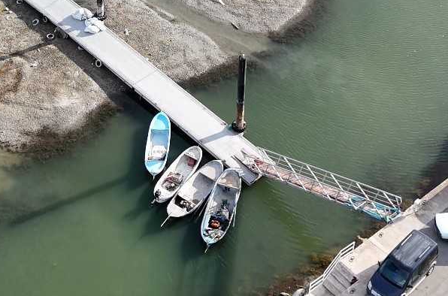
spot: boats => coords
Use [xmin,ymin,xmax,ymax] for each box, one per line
[202,167,245,256]
[153,145,203,212]
[140,110,176,186]
[166,159,225,224]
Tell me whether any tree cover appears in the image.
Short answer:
No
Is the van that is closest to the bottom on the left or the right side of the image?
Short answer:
right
